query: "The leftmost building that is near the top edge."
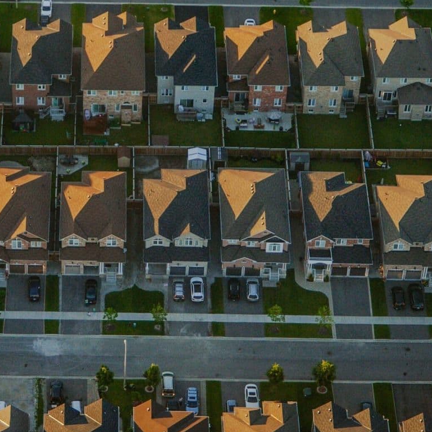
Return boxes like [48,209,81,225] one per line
[9,13,75,124]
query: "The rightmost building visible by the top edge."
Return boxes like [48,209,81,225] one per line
[367,15,432,124]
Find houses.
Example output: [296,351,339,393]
[309,400,390,432]
[81,11,145,132]
[295,17,365,123]
[142,169,211,286]
[373,176,432,291]
[0,397,33,432]
[299,172,373,287]
[9,13,75,124]
[43,396,123,432]
[57,171,126,288]
[153,13,218,119]
[221,398,301,432]
[0,170,52,274]
[367,15,432,124]
[223,17,291,114]
[131,395,210,432]
[218,168,291,288]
